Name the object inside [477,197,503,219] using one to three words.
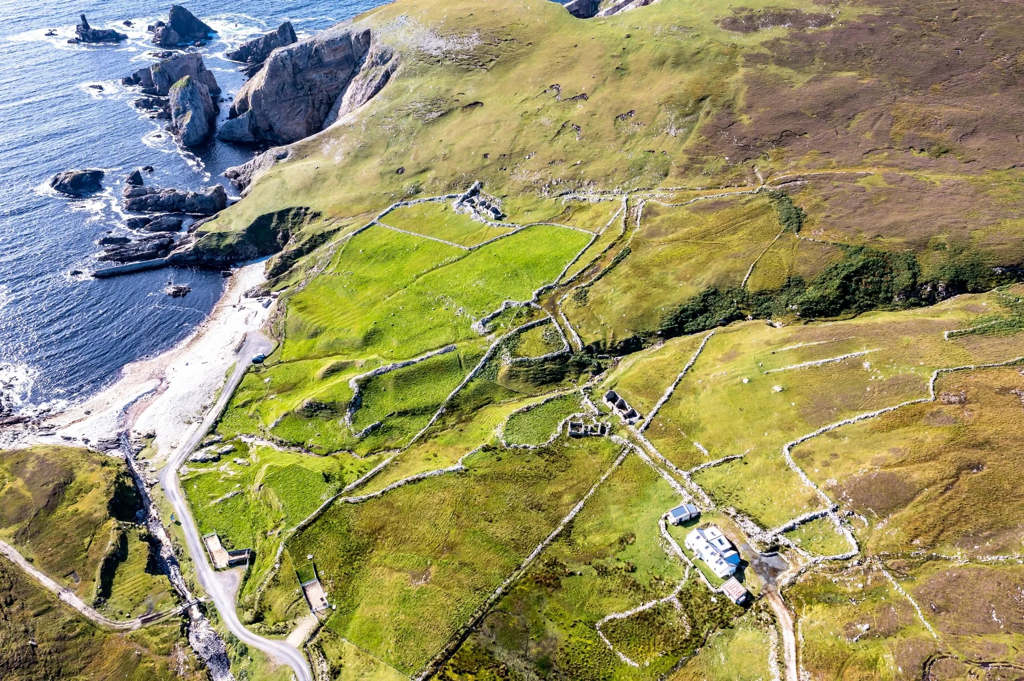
house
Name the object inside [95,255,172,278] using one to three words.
pier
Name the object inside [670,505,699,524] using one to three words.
shed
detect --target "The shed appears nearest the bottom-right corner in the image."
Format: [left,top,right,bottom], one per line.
[722,578,749,607]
